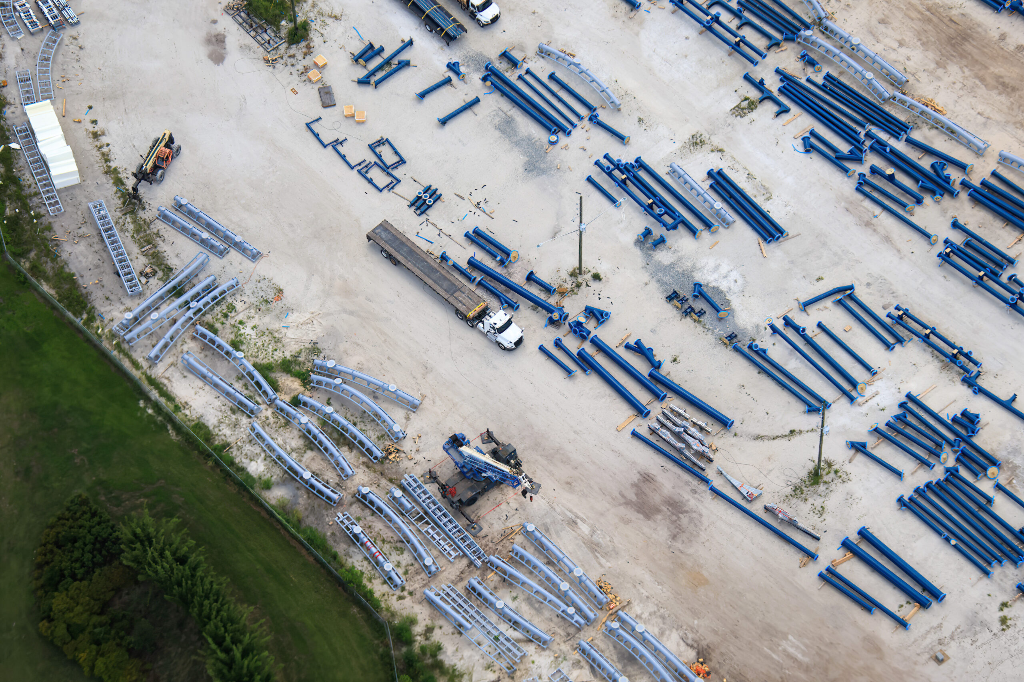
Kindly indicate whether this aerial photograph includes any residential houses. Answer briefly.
No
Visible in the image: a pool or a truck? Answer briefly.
truck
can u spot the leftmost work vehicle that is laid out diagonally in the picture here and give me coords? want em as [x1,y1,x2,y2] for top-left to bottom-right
[124,129,182,206]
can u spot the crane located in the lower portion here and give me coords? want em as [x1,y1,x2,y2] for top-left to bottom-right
[426,428,537,531]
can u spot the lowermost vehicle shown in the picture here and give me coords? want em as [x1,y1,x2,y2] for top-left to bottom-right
[456,305,522,353]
